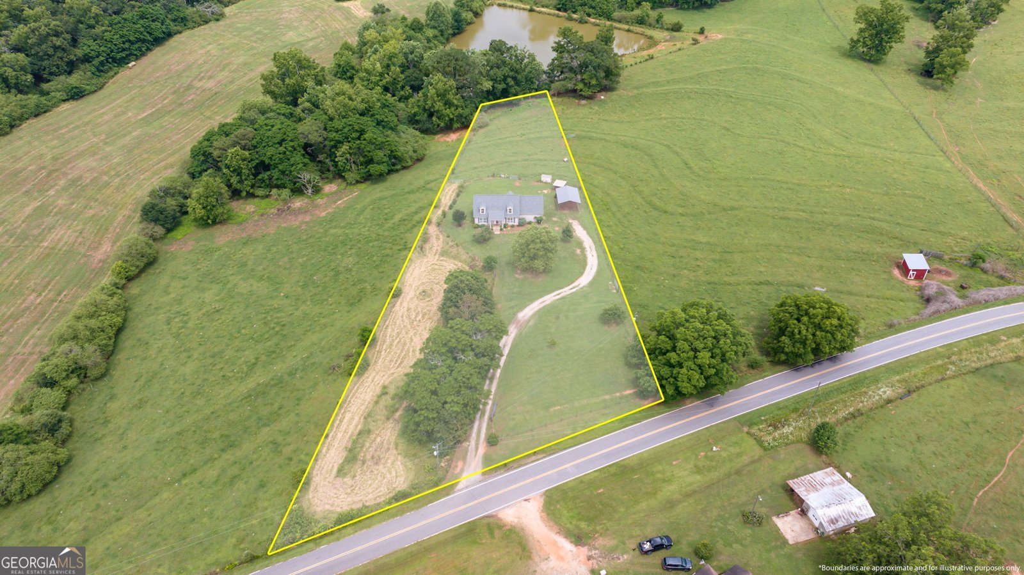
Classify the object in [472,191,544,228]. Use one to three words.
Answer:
house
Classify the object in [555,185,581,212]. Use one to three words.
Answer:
building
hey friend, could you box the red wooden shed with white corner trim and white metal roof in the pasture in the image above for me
[902,259,929,280]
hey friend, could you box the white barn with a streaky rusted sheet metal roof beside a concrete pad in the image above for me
[788,466,870,535]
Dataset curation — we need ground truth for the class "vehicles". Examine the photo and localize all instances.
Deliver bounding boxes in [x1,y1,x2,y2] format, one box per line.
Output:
[662,558,692,573]
[637,536,673,555]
